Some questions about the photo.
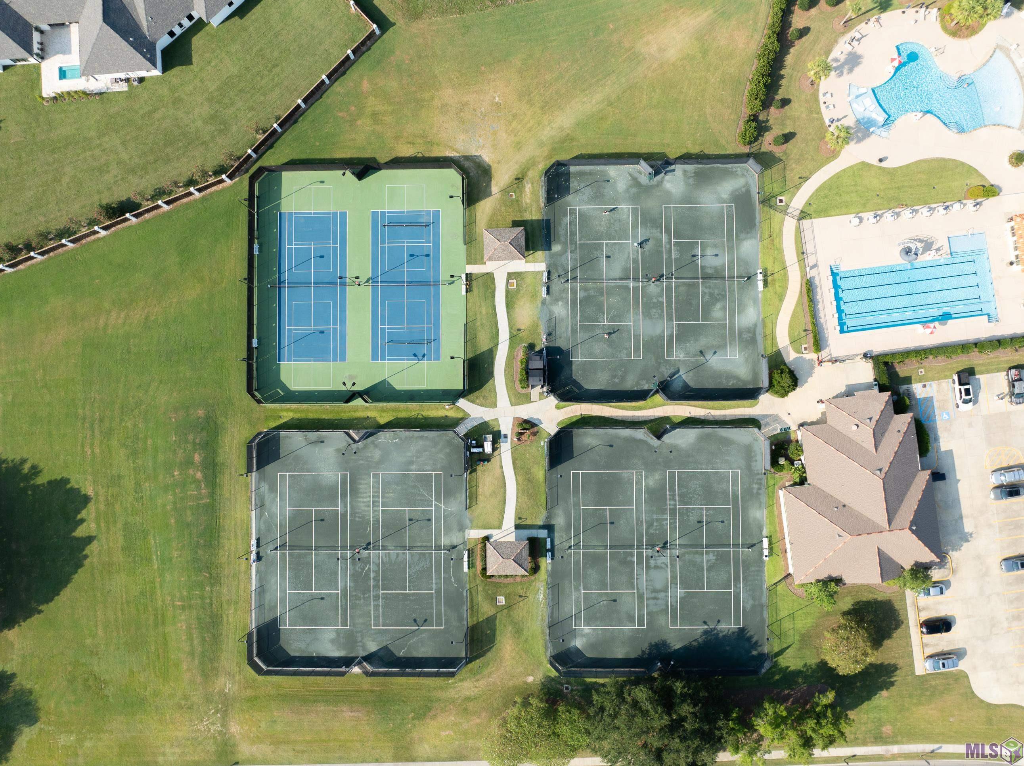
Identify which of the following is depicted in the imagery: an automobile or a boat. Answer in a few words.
automobile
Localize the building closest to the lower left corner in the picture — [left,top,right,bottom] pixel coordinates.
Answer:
[486,539,529,576]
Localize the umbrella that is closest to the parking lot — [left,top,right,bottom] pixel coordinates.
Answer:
[919,322,936,336]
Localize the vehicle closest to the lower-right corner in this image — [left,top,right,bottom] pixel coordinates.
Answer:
[926,656,962,674]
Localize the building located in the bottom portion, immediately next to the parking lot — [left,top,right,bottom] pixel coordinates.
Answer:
[778,390,942,585]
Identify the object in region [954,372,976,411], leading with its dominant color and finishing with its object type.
white vehicle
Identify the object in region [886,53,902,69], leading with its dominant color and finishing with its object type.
white umbrella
